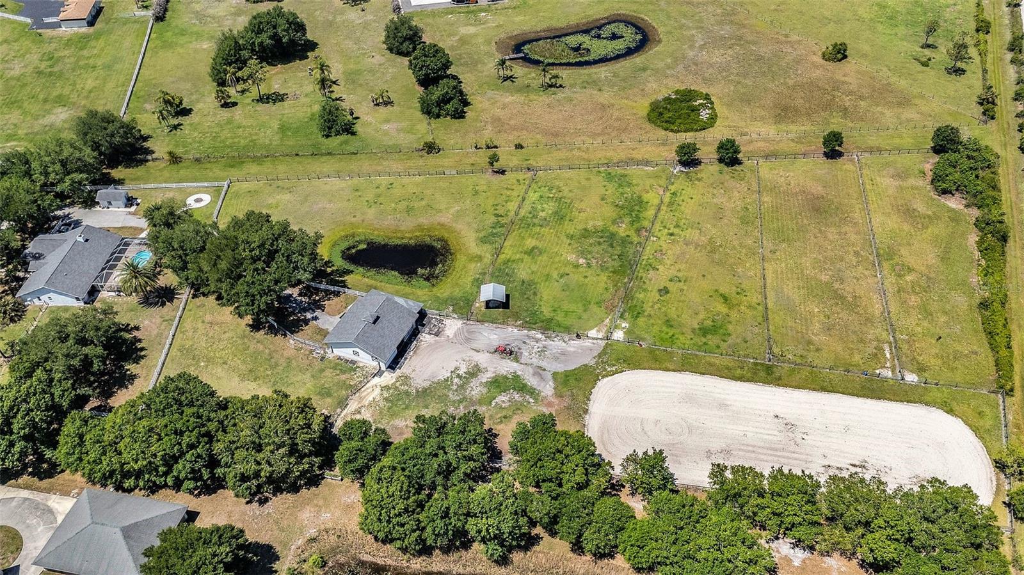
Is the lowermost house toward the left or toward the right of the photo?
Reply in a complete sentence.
The lowermost house sits on the left side.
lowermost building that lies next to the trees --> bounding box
[33,488,188,575]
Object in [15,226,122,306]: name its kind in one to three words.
house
